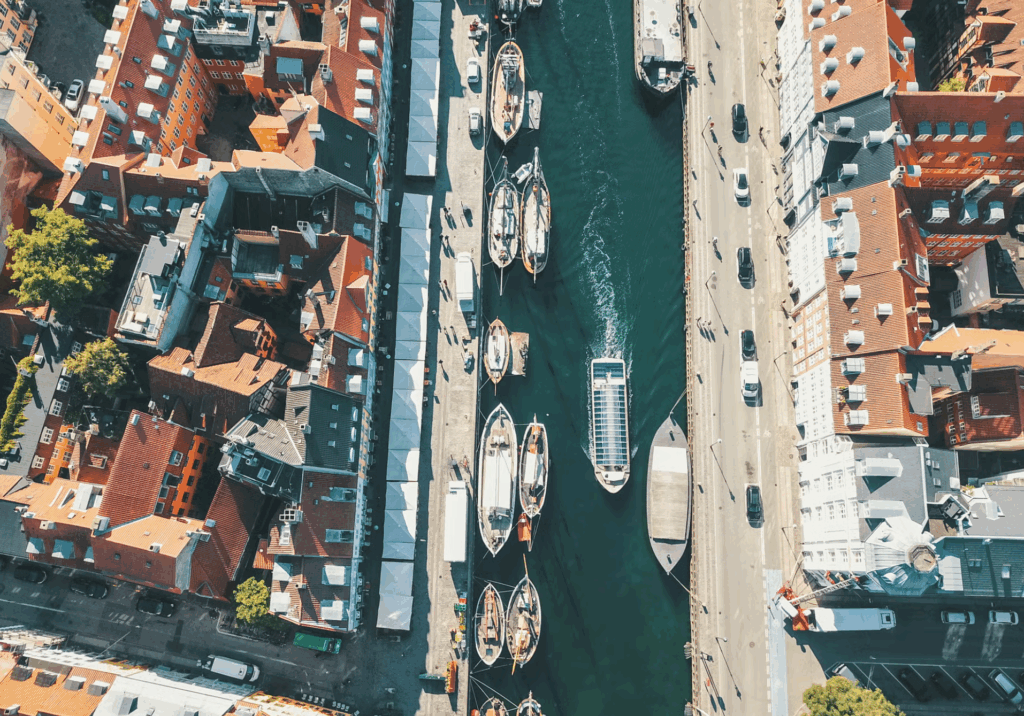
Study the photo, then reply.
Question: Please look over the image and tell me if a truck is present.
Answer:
Yes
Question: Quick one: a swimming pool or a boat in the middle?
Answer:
boat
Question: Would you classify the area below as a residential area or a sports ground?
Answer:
residential area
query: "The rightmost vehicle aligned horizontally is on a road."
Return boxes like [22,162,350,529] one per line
[983,608,1023,626]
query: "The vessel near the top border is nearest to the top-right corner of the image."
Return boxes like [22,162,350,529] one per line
[637,0,688,115]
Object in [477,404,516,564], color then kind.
white boat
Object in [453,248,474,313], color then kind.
white truck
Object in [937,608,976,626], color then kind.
blue car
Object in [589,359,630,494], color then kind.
white boat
